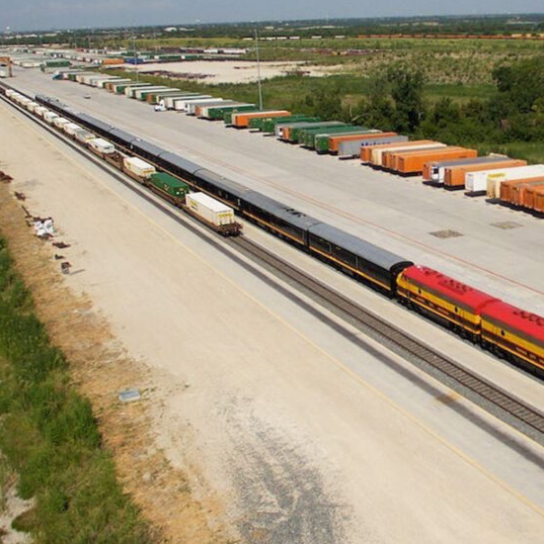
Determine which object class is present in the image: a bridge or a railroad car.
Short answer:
railroad car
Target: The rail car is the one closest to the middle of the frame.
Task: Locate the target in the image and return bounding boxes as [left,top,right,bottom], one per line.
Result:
[187,200,247,239]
